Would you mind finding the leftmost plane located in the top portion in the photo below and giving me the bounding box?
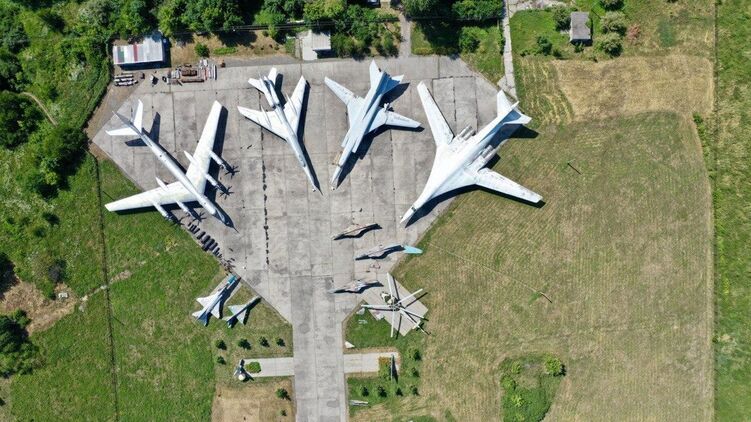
[105,99,238,233]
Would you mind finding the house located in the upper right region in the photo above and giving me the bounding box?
[569,12,590,41]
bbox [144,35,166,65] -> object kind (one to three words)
building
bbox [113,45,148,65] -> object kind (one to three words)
shed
